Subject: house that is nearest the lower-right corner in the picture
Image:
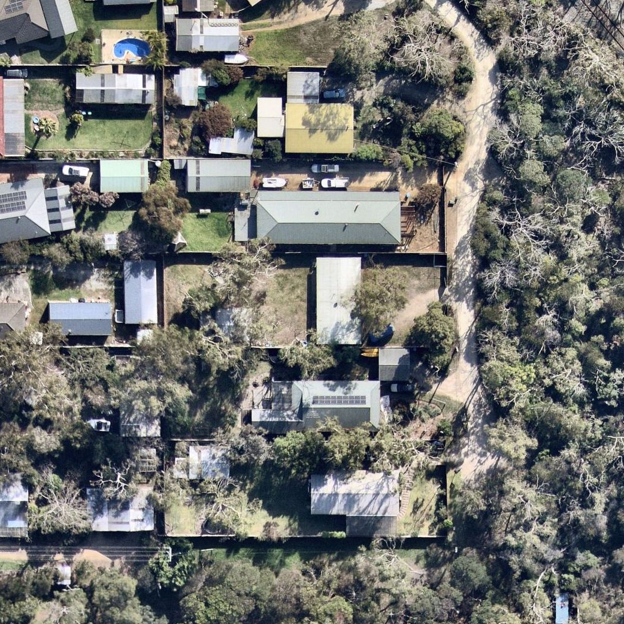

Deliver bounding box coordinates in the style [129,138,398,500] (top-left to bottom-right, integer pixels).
[311,470,400,536]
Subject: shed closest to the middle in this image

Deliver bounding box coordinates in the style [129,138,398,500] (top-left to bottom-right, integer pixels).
[315,257,361,345]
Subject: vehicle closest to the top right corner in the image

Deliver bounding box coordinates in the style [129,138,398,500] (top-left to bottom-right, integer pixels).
[322,88,346,100]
